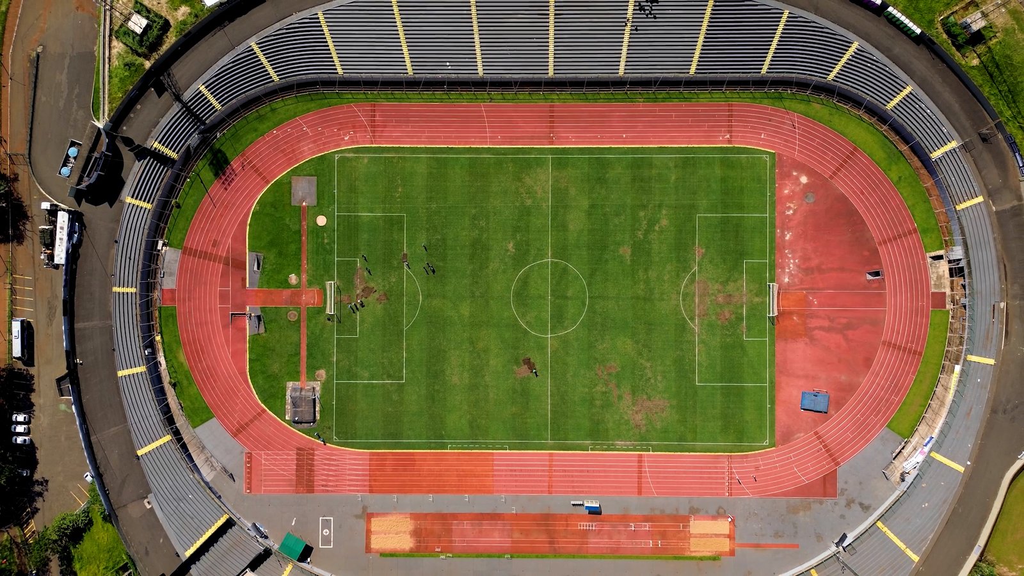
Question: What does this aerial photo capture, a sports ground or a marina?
sports ground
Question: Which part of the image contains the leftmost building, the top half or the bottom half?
top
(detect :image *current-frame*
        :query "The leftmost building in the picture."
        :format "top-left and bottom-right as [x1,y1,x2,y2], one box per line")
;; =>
[59,120,127,194]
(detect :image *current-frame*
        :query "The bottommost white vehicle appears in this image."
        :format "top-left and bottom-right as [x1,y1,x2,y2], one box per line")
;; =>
[82,468,95,486]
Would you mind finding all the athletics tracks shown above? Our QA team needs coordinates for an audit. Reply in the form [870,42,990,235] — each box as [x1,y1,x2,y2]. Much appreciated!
[175,103,930,498]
